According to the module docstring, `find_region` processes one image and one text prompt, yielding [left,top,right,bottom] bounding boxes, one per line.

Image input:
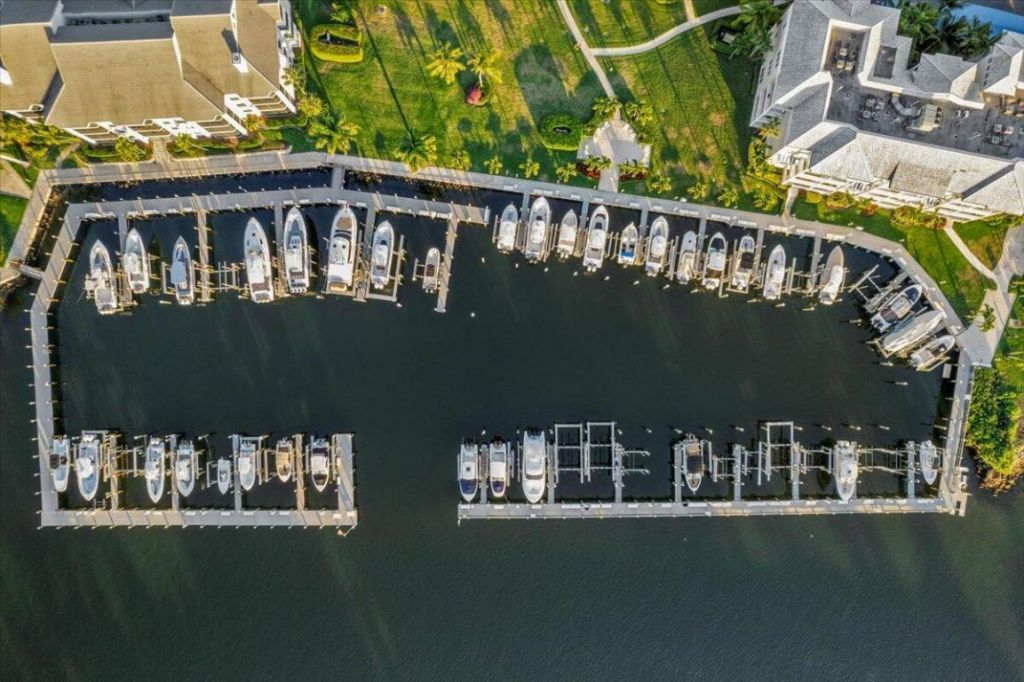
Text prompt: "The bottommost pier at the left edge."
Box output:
[39,435,358,528]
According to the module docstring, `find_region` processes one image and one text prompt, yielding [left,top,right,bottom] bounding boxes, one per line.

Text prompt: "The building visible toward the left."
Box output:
[0,0,303,141]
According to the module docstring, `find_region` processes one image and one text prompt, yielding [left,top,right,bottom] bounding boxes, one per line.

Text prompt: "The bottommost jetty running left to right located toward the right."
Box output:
[457,442,958,518]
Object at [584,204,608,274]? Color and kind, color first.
white boat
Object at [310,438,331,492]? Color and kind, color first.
white boat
